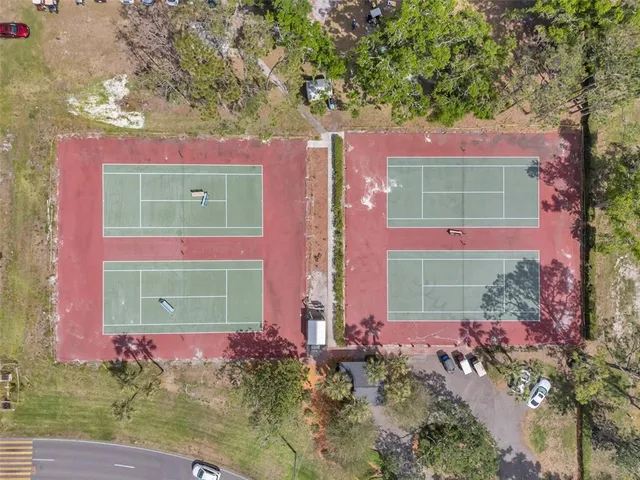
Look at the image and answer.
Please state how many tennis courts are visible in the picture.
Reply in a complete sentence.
The picture shows 4 tennis courts.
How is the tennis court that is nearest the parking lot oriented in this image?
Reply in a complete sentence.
The tennis court that is nearest the parking lot has been laid out from side to side relative to the frame.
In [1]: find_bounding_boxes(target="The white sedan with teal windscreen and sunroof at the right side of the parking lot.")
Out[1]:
[527,379,553,411]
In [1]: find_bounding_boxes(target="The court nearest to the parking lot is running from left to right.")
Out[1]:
[345,239,582,345]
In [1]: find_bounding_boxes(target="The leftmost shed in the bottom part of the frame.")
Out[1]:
[308,318,326,345]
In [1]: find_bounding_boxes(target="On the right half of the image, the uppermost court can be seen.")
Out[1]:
[345,129,582,239]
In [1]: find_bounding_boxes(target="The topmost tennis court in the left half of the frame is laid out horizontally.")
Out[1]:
[58,138,306,249]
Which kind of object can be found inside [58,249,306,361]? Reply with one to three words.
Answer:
tennis court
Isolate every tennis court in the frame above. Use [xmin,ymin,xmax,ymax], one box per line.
[58,138,306,249]
[58,249,306,361]
[345,129,582,239]
[345,239,582,345]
